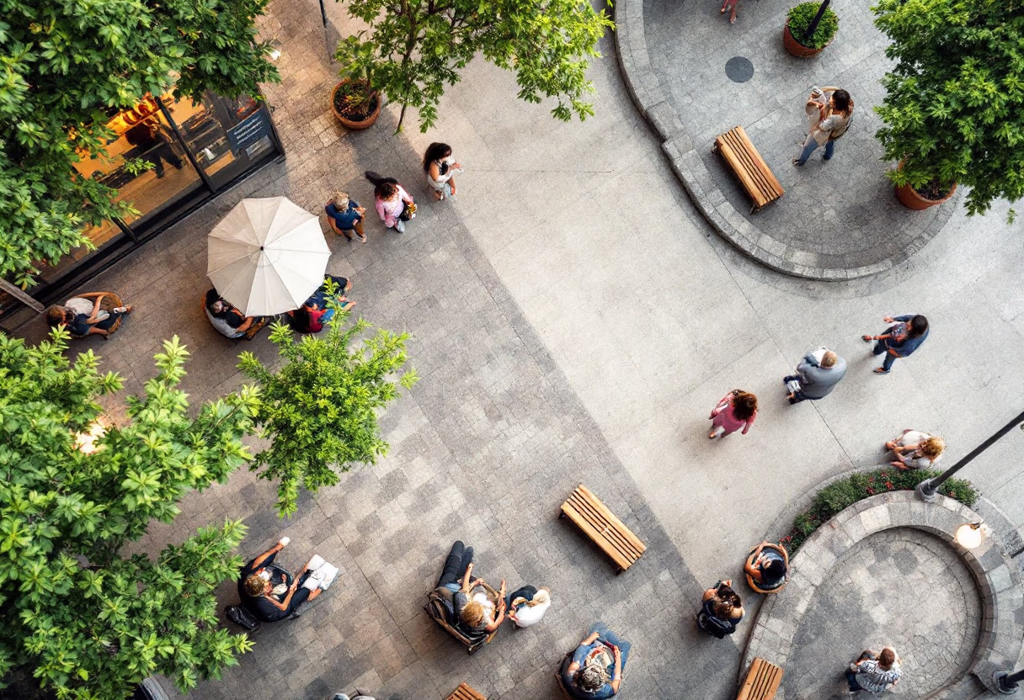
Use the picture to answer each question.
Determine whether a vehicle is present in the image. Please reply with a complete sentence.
No, there's no vehicle here.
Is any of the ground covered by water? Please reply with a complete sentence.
No, there is no water in the image.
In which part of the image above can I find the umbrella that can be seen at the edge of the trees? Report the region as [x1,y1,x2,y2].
[207,200,332,316]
